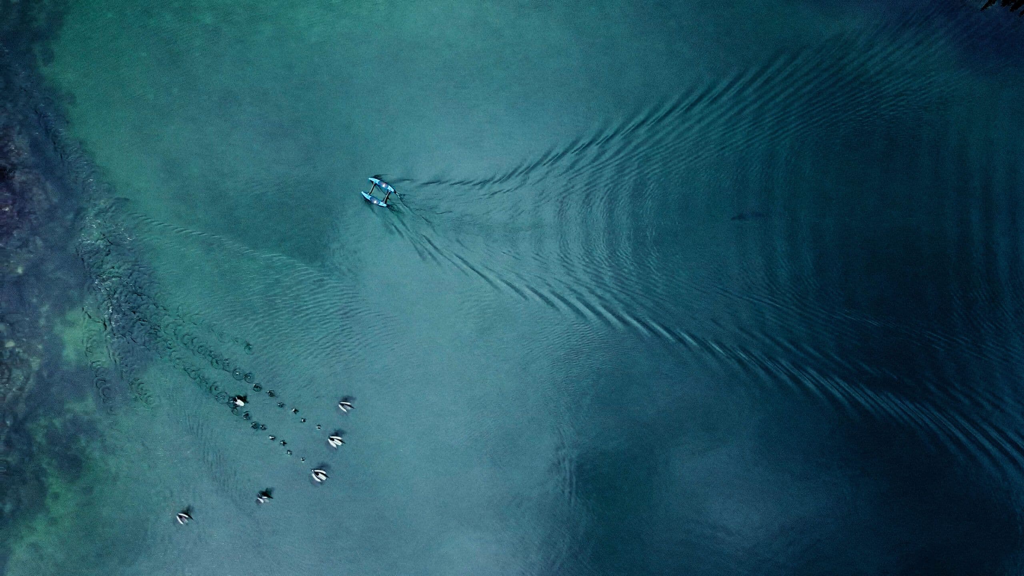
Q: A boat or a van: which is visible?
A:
boat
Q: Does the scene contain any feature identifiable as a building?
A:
No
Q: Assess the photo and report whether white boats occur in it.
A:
No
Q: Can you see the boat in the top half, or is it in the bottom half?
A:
top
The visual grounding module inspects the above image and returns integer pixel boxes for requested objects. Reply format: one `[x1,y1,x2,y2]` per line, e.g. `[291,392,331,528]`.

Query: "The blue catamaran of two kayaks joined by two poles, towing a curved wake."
[361,177,400,206]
